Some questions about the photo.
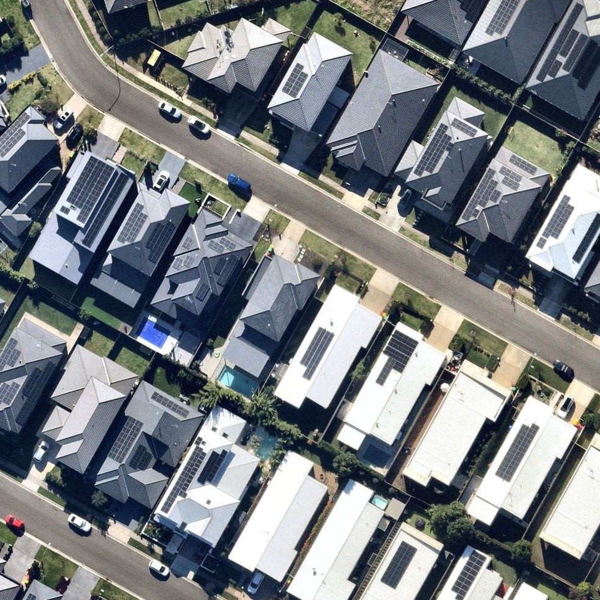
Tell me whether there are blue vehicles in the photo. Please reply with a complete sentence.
Yes, the frame does contain a blue vehicle.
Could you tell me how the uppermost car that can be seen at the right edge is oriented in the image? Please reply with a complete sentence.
In this picture, the uppermost car that can be seen at the right edge lies diagonally.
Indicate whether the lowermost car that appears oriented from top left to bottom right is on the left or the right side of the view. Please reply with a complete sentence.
The lowermost car that appears oriented from top left to bottom right is on the left side of the image.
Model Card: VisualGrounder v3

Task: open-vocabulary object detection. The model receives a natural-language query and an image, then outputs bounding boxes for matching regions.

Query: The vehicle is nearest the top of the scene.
[17,0,32,18]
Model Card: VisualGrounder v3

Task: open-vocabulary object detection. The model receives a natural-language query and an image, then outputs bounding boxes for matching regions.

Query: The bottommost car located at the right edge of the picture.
[557,393,575,420]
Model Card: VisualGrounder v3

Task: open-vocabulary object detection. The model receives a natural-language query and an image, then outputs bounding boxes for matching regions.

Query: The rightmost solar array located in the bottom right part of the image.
[498,425,539,482]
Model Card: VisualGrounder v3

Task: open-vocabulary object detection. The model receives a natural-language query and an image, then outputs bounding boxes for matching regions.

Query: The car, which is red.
[3,514,27,532]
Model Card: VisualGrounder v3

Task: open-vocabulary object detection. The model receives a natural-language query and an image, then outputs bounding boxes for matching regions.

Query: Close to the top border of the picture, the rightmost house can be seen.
[526,0,600,121]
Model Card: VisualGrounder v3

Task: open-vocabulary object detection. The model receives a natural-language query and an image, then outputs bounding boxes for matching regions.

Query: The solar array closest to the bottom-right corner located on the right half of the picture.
[447,550,488,600]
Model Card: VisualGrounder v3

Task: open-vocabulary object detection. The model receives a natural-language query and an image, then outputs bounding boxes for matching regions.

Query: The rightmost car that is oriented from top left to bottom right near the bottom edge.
[146,557,171,577]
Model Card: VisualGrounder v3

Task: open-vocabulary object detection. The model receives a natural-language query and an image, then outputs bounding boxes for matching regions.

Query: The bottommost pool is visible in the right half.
[370,494,390,510]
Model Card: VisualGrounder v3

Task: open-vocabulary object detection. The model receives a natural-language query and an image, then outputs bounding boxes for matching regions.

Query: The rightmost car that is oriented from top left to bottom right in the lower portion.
[551,360,576,380]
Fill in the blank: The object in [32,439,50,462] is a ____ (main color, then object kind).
white car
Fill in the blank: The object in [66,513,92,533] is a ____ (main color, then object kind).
white car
